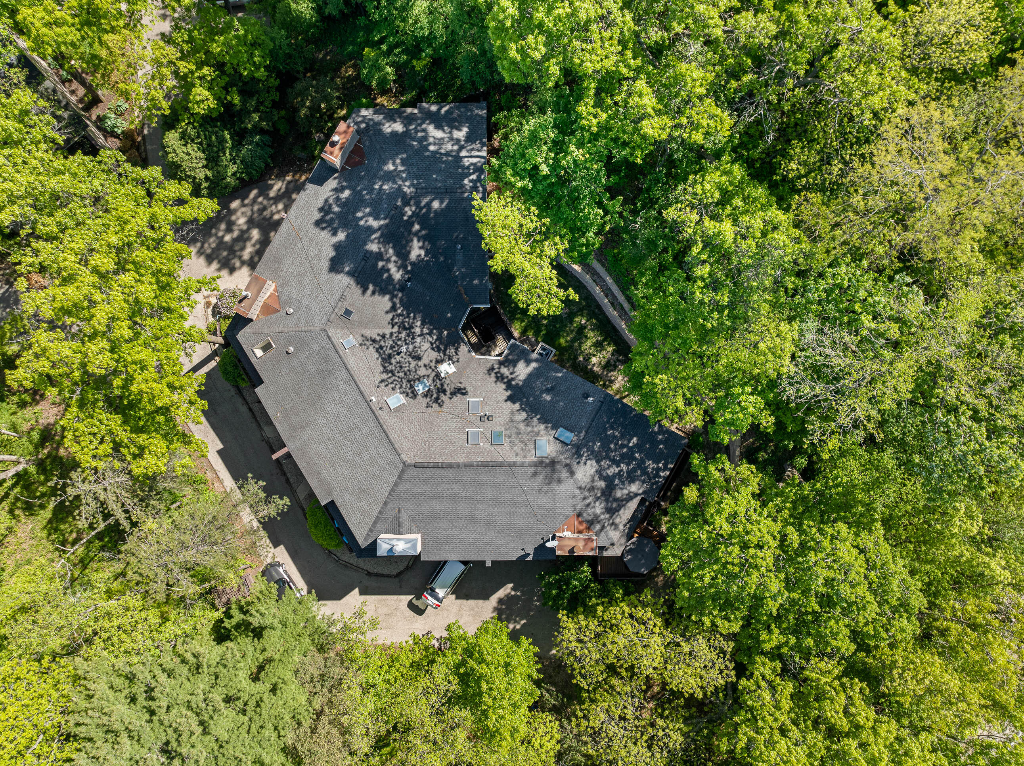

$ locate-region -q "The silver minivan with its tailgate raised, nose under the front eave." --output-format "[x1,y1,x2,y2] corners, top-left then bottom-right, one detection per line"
[421,561,472,610]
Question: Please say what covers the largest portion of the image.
trees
